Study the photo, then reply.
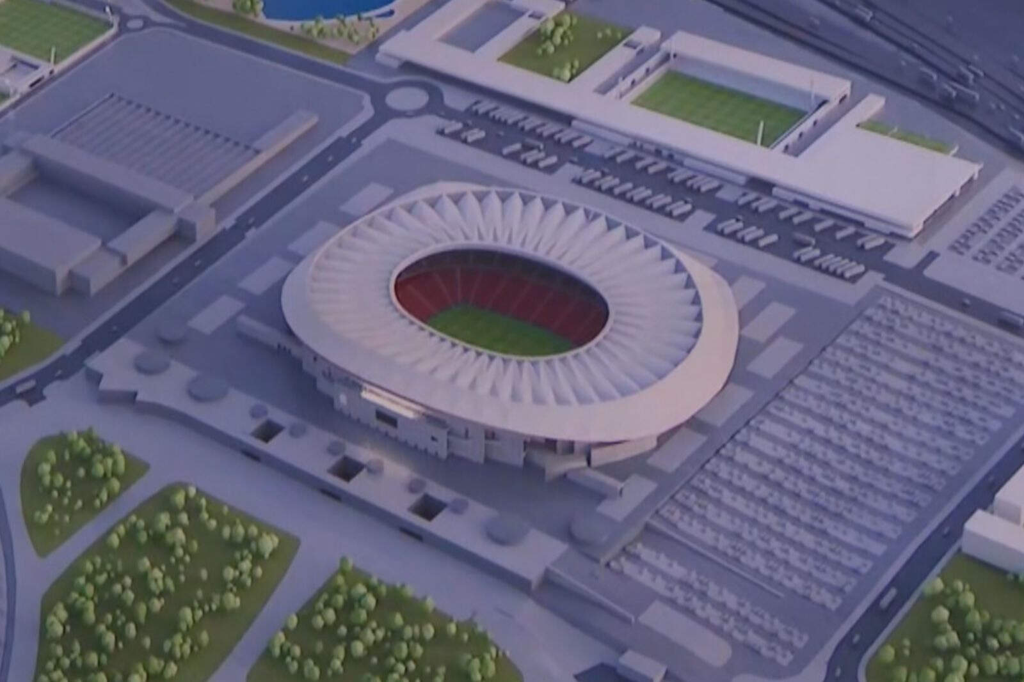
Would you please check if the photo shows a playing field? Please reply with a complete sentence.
Yes, a playing field appears in the view.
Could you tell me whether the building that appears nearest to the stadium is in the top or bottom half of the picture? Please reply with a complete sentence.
The bottom half of the photo is where the building that appears nearest to the stadium is.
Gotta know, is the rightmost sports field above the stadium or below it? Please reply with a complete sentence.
The position of the rightmost sports field is above the stadium.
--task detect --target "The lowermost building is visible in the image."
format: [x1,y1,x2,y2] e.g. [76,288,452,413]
[618,650,666,682]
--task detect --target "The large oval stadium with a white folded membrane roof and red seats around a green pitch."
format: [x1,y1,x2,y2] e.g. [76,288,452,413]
[272,186,741,482]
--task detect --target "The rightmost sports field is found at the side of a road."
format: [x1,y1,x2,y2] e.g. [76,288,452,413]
[617,30,851,154]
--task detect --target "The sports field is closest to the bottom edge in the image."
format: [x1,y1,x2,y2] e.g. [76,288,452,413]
[426,305,580,356]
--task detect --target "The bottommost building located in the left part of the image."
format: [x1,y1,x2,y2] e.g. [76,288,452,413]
[84,337,568,595]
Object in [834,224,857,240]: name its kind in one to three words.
vehicle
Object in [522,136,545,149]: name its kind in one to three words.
vehicle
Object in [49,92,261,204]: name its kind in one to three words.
building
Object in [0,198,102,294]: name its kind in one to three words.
building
